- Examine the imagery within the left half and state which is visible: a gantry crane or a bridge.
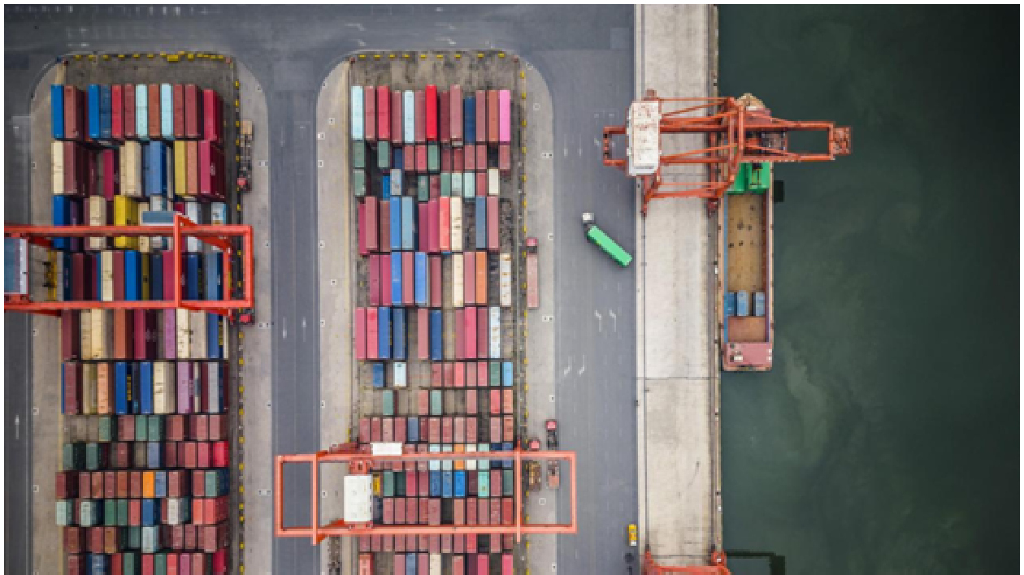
gantry crane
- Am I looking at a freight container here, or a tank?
freight container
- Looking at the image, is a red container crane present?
Yes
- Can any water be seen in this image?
Yes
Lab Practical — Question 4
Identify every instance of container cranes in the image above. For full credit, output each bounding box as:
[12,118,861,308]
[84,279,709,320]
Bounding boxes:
[640,539,736,575]
[0,211,256,324]
[603,86,852,224]
[277,433,575,545]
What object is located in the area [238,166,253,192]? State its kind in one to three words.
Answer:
vehicle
